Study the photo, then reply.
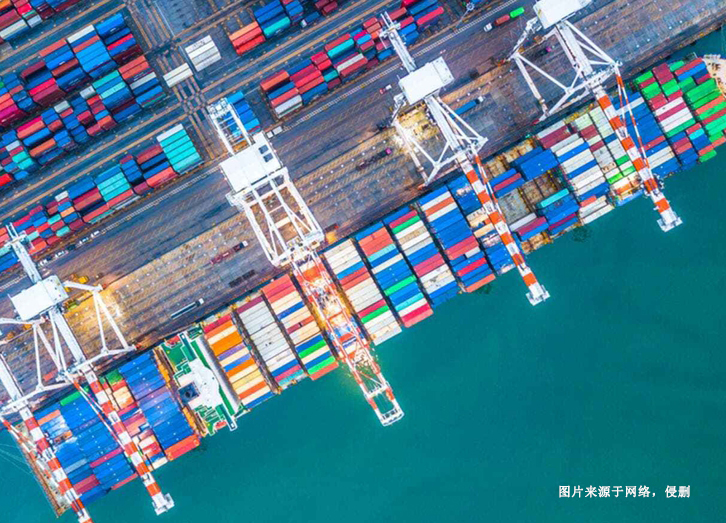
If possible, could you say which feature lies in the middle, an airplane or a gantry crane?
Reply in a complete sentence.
The feature located in the middle is a gantry crane.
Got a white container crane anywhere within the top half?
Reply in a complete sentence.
Yes, the scene does show a white container crane within the top half.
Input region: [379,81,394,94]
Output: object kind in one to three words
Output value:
vehicle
